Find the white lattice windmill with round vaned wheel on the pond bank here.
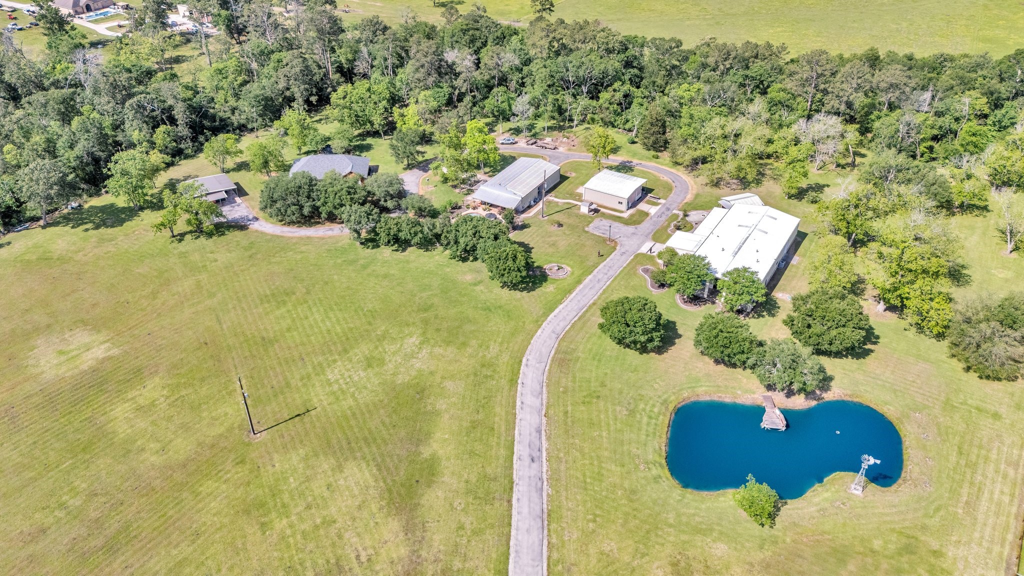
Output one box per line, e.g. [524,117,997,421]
[850,456,881,494]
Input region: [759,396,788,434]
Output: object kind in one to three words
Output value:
pier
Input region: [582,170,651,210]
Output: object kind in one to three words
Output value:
building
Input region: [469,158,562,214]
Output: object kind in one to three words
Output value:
building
